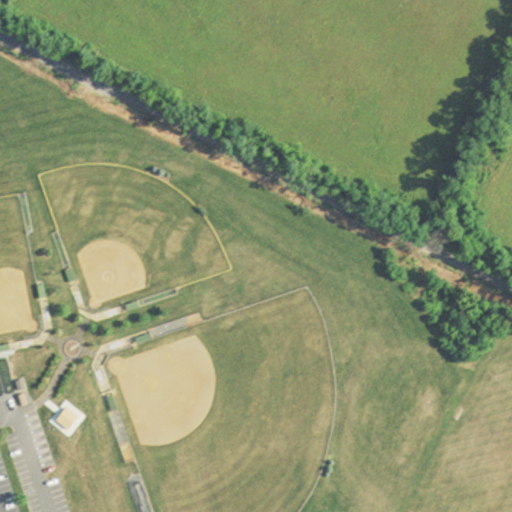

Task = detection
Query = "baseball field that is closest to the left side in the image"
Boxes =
[0,194,43,345]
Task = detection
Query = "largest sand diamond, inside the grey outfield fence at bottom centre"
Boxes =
[106,288,335,512]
